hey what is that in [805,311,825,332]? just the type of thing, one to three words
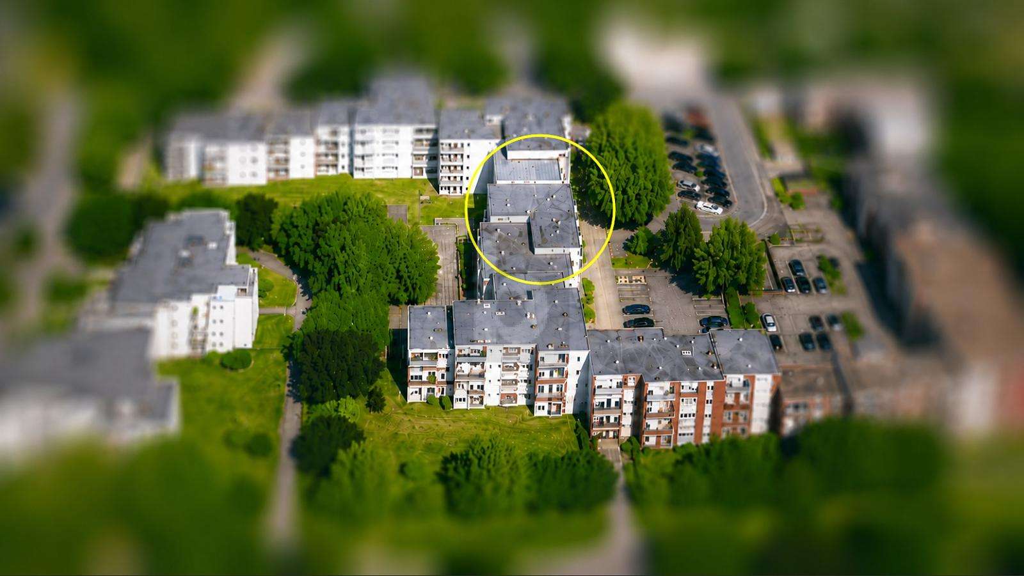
car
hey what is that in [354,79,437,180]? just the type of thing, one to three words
building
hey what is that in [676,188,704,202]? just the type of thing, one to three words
car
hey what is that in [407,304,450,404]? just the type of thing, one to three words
building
